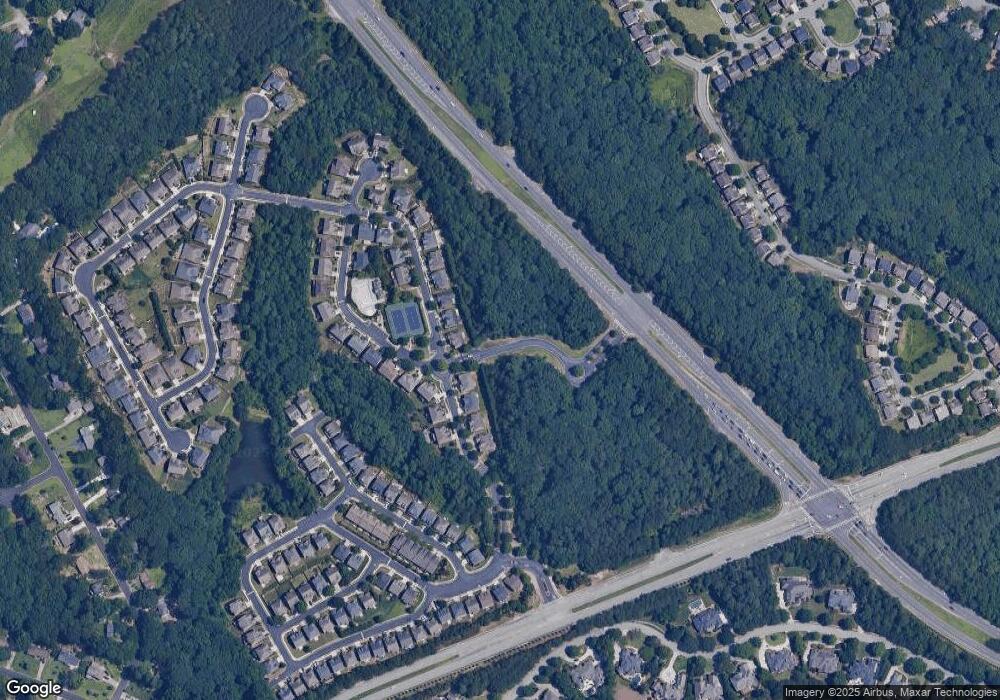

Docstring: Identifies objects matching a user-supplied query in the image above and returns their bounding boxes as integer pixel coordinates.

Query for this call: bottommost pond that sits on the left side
[227,420,282,498]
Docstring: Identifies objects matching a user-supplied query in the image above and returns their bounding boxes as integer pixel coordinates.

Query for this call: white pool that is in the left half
[352,276,381,316]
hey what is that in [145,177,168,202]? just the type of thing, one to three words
house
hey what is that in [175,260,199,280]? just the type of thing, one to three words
house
